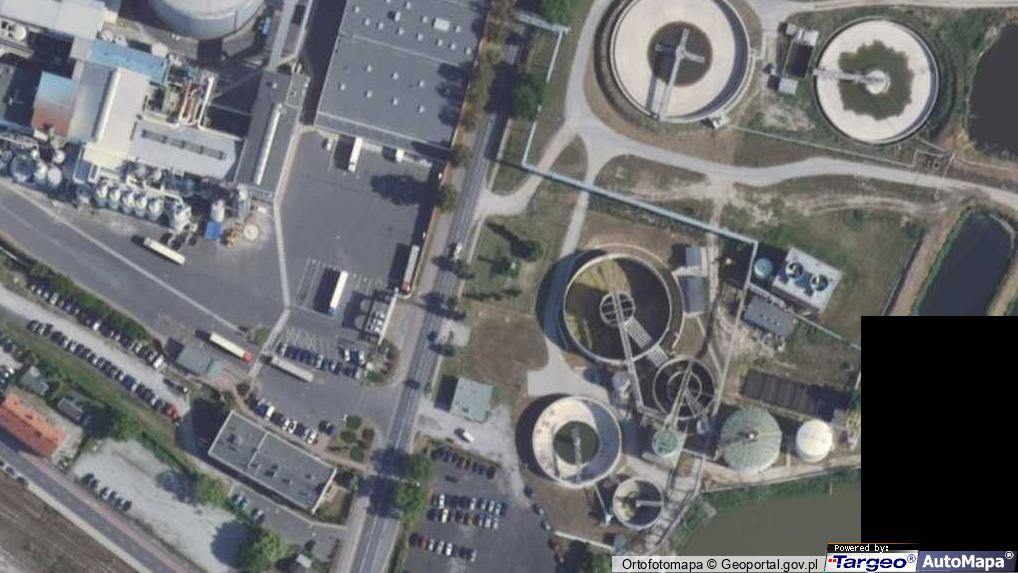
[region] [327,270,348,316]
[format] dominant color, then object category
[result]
white vehicle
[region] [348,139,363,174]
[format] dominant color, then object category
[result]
white vehicle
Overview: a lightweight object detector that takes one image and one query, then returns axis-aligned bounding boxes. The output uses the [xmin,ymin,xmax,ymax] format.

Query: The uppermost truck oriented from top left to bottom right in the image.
[143,237,186,266]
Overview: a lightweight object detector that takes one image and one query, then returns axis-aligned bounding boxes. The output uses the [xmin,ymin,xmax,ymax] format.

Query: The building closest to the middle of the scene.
[450,378,492,424]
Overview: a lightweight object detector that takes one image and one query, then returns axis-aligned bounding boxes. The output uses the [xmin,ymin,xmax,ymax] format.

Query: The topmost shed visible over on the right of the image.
[783,24,818,48]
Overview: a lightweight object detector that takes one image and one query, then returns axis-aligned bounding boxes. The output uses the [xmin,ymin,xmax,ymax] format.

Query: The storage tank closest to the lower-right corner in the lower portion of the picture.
[794,418,833,458]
